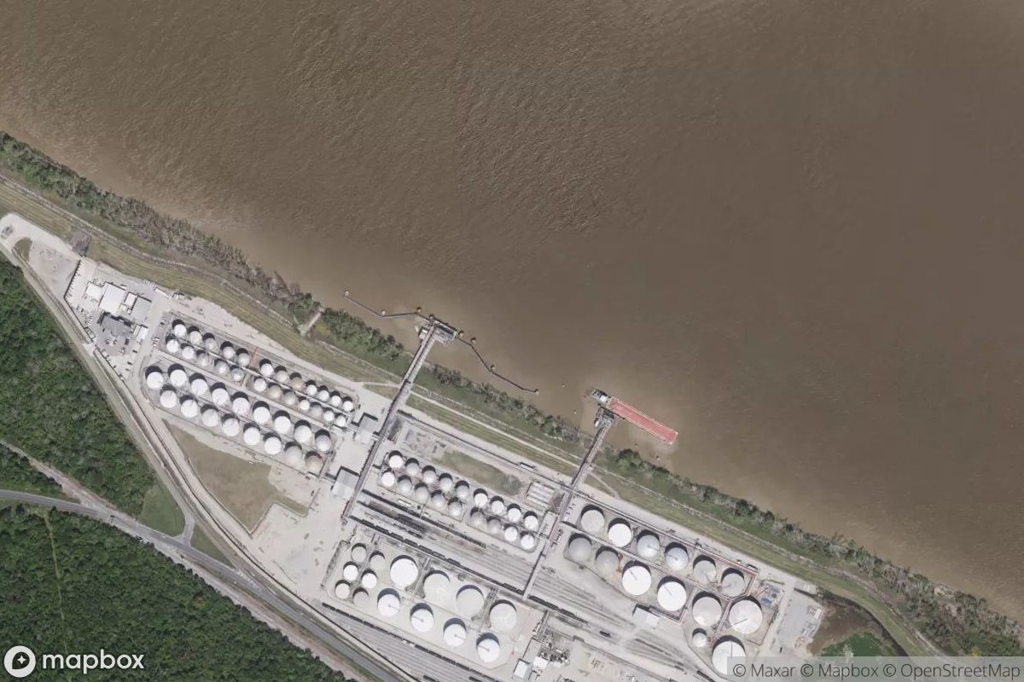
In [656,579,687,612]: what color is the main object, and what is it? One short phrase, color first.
white storage tank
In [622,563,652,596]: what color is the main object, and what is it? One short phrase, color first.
white storage tank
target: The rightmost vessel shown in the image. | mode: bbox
[606,397,677,444]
